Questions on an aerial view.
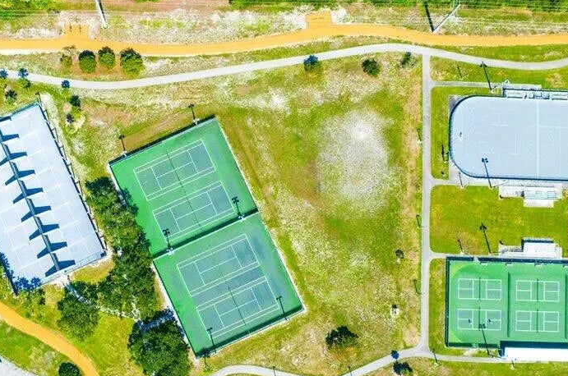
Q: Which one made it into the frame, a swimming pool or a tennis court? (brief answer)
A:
tennis court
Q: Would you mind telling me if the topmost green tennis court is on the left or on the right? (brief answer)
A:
left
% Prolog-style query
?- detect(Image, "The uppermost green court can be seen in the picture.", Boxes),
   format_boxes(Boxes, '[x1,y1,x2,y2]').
[110,118,237,211]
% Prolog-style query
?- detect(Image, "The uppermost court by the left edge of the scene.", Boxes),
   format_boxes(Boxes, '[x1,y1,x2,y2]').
[0,105,46,141]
